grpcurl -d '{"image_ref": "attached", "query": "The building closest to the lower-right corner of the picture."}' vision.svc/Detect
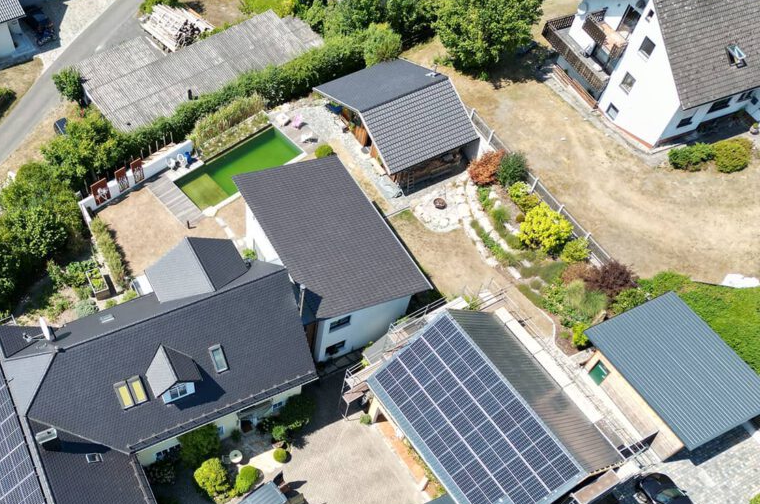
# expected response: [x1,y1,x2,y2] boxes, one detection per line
[573,291,760,463]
